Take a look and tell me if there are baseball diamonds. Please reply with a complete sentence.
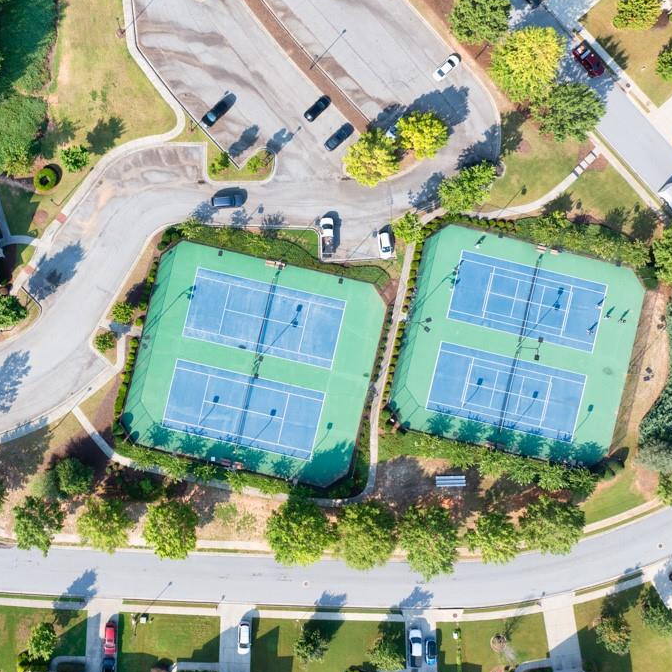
No, there appears to be no baseball diamond in this shot.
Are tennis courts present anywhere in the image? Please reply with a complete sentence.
Yes, the photo shows a tennis court.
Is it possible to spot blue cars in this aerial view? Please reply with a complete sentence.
Yes, looking at the shot, I can spot a blue car.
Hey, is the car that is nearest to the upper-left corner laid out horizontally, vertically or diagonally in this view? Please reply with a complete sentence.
From this overhead view, the car that is nearest to the upper-left corner appears to run diagonally.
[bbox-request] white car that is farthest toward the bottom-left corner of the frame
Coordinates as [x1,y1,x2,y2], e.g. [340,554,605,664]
[238,621,251,653]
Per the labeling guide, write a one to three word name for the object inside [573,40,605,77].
truck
